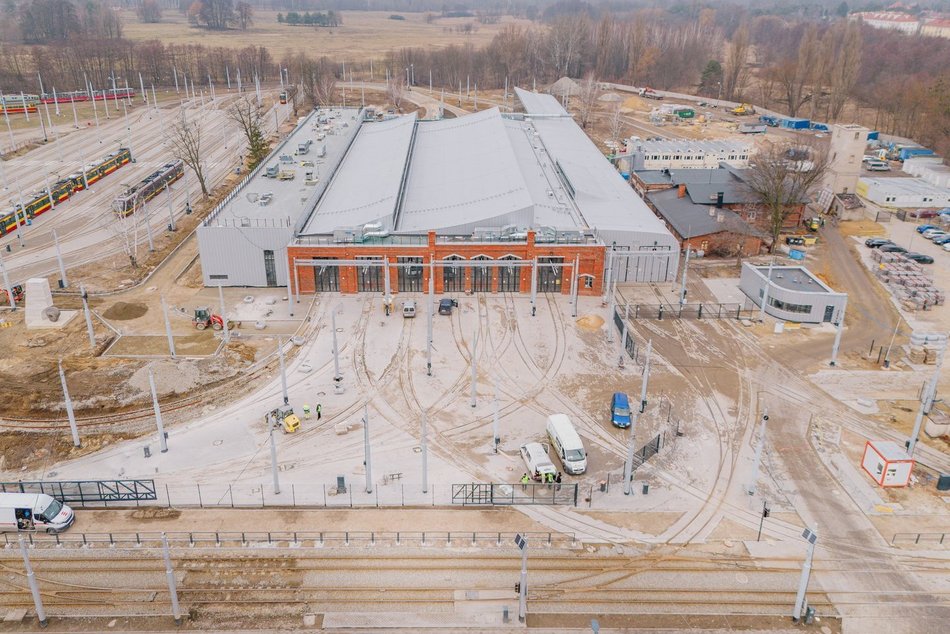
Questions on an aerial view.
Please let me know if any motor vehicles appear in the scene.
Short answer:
Yes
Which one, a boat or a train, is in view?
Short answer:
train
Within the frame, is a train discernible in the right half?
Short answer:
No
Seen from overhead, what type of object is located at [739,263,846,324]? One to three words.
building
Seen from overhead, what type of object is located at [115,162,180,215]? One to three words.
train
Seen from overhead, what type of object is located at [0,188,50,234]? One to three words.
train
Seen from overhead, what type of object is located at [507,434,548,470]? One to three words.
car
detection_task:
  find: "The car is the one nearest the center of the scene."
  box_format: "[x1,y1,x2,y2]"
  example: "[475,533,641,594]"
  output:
[437,296,458,313]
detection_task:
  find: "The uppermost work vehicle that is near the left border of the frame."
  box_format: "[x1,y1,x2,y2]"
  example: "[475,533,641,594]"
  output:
[0,278,33,303]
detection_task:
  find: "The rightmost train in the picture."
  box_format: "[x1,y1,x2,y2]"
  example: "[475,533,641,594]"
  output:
[279,83,296,102]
